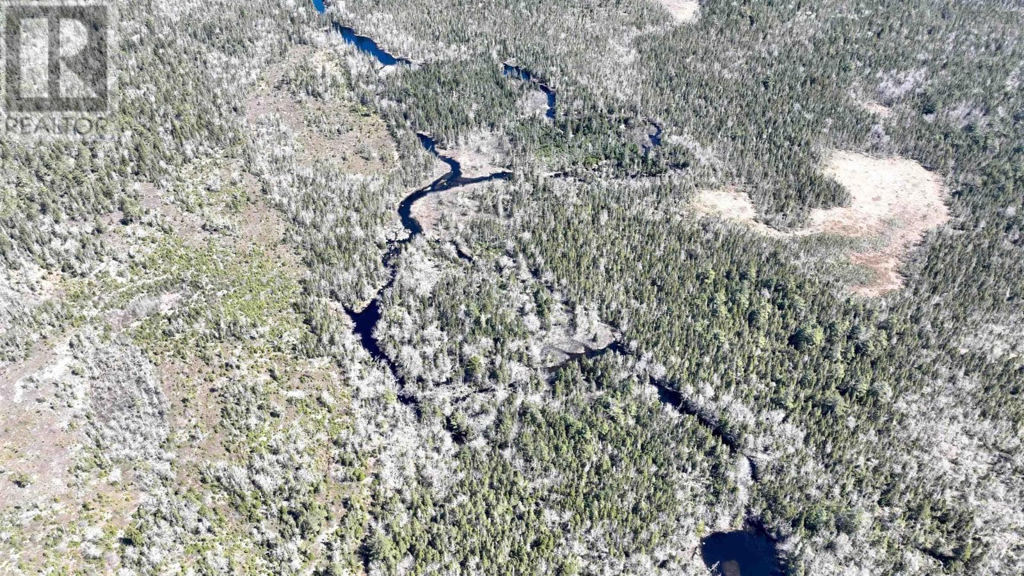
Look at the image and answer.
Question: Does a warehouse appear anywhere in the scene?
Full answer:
No, there isn't any warehouse down there.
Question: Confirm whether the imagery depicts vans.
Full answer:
No, the frame has no van in it.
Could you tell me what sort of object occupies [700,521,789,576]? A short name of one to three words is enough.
pond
